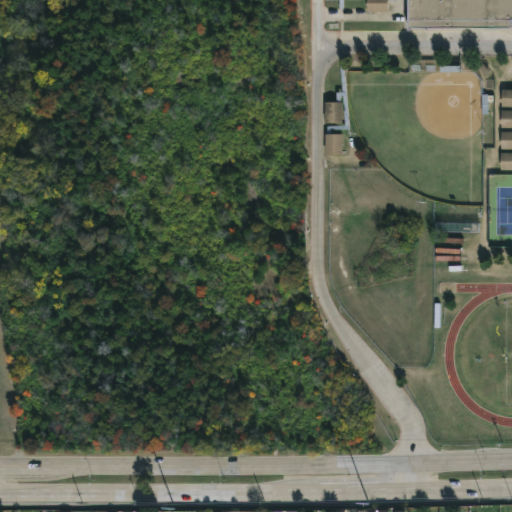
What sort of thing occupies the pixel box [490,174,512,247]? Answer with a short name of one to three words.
tennis court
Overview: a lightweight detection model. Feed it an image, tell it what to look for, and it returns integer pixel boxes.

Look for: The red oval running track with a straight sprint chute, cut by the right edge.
[444,282,512,427]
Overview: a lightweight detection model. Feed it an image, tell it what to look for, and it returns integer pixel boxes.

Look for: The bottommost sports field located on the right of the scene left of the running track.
[330,169,433,366]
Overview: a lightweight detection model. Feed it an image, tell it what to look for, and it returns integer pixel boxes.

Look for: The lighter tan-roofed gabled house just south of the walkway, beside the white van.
[325,134,343,157]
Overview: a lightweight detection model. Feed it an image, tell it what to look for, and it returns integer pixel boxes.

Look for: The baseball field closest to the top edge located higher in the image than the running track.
[348,72,482,205]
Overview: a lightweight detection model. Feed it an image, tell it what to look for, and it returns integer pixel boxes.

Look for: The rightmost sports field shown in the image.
[456,294,512,416]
